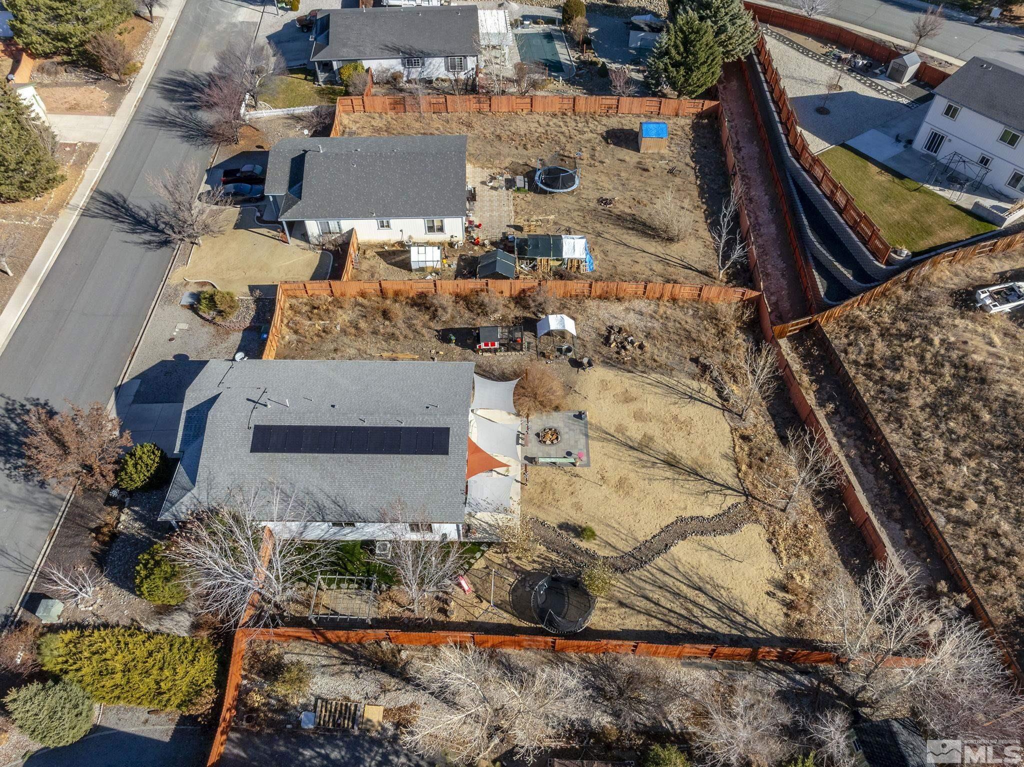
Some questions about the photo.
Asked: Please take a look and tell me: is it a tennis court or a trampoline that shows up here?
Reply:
trampoline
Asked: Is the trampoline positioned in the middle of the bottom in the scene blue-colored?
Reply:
No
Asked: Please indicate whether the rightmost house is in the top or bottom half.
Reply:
top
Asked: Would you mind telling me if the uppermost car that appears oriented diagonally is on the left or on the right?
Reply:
left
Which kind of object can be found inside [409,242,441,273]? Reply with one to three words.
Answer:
greenhouse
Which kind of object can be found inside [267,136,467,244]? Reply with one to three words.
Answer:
house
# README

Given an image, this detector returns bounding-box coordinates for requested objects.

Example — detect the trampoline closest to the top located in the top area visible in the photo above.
[535,152,581,200]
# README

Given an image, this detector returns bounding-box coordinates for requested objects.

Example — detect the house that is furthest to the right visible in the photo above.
[913,57,1024,195]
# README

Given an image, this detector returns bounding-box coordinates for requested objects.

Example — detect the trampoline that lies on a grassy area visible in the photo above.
[531,559,595,638]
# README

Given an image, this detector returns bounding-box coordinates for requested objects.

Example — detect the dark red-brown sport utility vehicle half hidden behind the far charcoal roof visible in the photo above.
[296,9,332,31]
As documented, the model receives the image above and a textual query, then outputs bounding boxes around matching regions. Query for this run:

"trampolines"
[531,559,595,638]
[535,152,581,200]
